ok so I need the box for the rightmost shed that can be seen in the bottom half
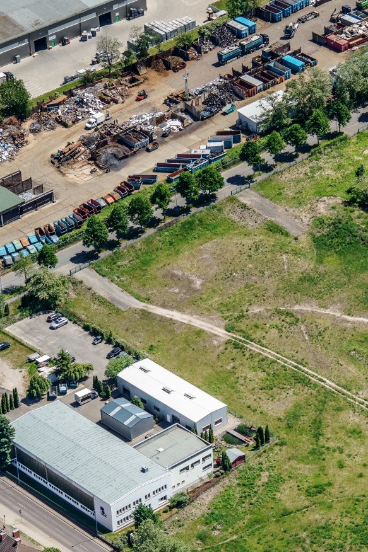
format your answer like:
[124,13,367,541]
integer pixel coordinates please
[219,446,245,470]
